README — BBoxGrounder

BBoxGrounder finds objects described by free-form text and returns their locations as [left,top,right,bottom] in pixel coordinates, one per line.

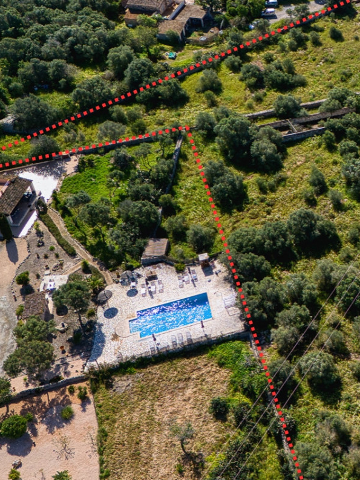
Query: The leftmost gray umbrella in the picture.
[95,289,114,304]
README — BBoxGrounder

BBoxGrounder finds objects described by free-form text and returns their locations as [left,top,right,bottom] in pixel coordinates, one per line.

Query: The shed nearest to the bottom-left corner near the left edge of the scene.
[12,286,42,318]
